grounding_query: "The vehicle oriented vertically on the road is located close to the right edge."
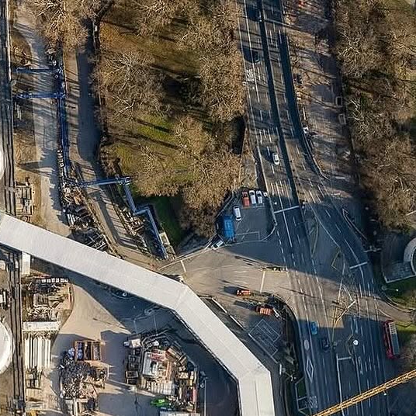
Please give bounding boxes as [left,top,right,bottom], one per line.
[386,315,401,360]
